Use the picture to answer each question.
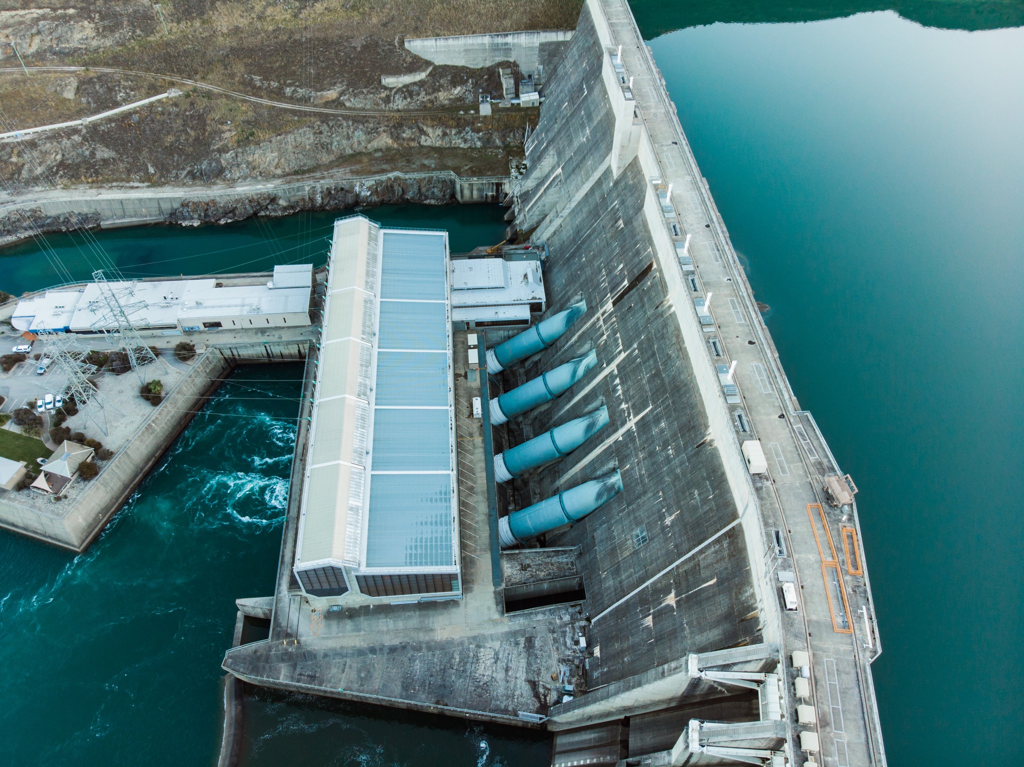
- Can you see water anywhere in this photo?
Yes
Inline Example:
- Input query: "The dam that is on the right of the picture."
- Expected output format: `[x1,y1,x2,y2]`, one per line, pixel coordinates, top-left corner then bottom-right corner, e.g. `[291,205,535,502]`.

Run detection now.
[504,0,888,767]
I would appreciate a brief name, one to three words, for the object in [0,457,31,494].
building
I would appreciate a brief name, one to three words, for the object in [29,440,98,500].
building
